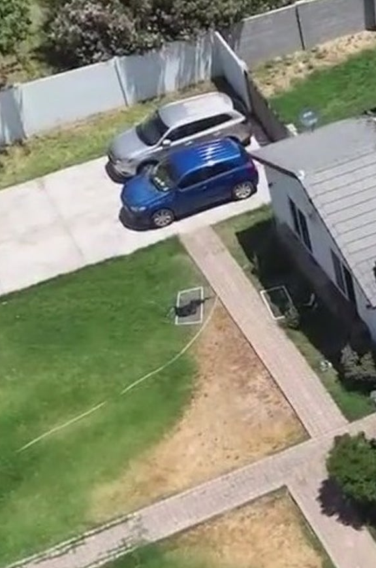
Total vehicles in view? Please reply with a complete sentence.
Altogether the scene contains 2 vehicles.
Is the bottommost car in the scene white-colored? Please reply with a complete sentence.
No, the bottommost car is actually blue.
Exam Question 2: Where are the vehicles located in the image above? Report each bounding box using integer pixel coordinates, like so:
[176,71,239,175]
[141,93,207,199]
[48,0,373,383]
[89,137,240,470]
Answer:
[100,83,255,180]
[115,135,261,226]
